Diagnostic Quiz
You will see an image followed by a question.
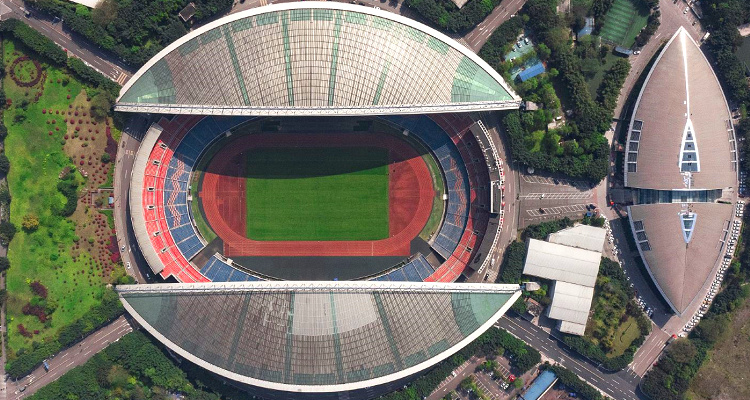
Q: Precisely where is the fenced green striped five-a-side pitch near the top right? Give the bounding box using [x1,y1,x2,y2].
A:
[601,0,653,49]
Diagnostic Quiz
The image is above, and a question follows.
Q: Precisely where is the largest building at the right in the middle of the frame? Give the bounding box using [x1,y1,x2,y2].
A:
[609,27,740,316]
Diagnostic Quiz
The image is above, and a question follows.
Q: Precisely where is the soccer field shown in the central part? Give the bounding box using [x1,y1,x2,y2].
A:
[247,148,388,241]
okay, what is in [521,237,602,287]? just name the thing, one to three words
shed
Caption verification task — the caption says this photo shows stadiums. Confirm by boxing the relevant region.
[104,1,540,392]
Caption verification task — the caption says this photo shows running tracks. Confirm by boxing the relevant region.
[199,132,436,257]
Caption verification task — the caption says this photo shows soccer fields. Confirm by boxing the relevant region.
[247,148,388,241]
[601,0,653,49]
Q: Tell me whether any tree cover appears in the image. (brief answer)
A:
Yes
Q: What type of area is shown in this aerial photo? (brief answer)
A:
sports ground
